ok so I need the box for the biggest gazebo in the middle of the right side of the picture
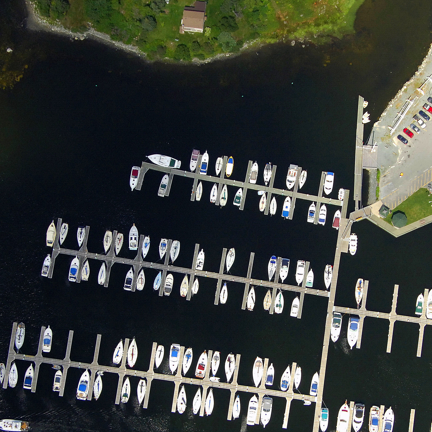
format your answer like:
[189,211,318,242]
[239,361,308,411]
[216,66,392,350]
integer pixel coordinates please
[391,212,406,228]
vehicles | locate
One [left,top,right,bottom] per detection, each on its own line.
[424,104,432,115]
[419,110,430,121]
[403,128,413,138]
[411,124,420,134]
[398,135,407,144]
[414,115,425,128]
